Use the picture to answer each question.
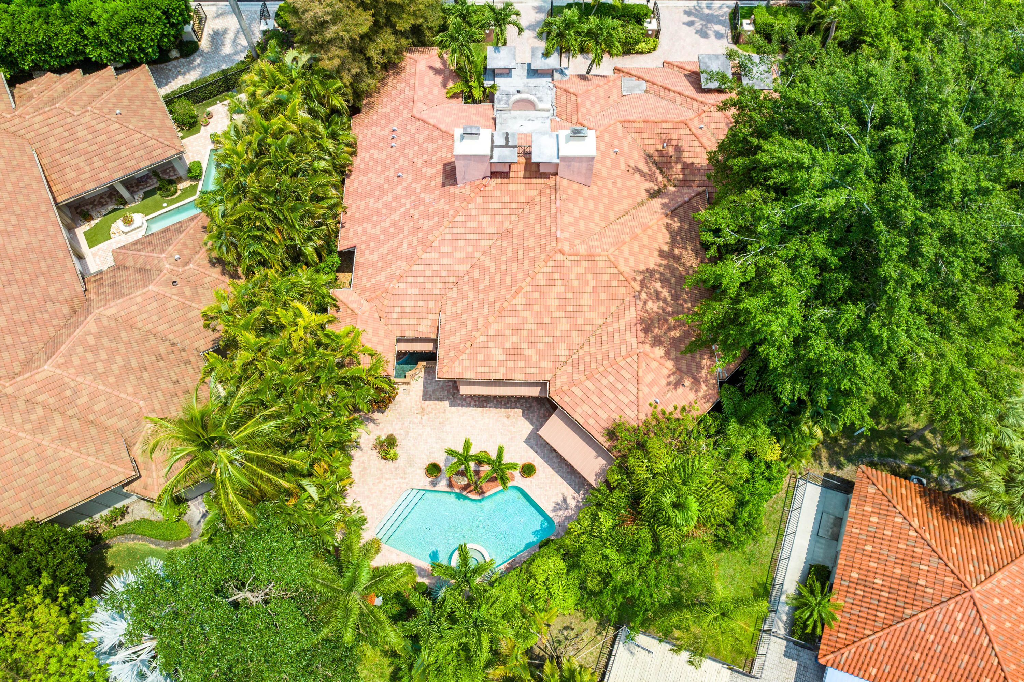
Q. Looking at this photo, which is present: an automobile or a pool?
pool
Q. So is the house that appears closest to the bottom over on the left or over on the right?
right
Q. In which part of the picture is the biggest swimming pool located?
bottom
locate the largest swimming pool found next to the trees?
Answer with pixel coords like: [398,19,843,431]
[373,481,561,588]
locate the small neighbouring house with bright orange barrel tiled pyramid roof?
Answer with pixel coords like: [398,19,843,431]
[816,465,1024,682]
